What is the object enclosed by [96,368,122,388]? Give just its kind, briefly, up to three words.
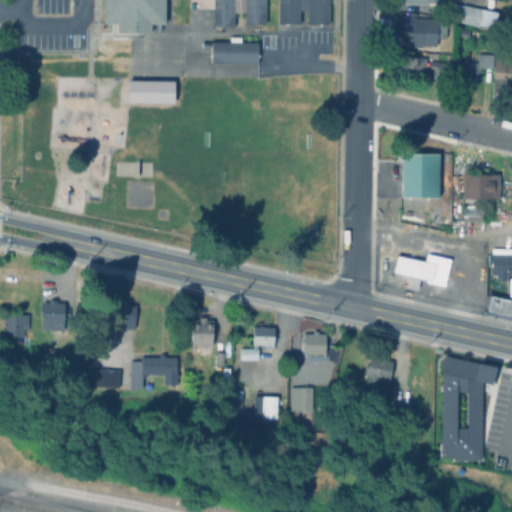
house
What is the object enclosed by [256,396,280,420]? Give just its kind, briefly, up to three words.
shed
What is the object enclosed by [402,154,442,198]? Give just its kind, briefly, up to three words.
building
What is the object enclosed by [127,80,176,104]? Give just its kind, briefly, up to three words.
building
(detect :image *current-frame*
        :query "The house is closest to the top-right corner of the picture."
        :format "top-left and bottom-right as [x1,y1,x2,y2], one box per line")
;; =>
[462,6,501,28]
